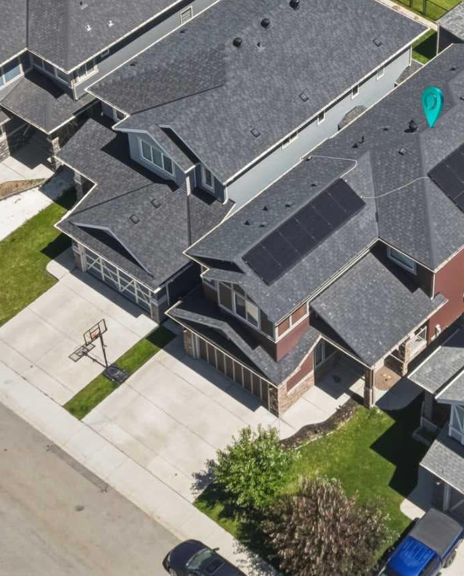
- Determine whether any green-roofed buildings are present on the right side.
No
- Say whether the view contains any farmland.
No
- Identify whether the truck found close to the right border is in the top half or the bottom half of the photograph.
bottom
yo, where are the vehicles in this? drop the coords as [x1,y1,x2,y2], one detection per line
[167,540,245,576]
[366,509,464,576]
